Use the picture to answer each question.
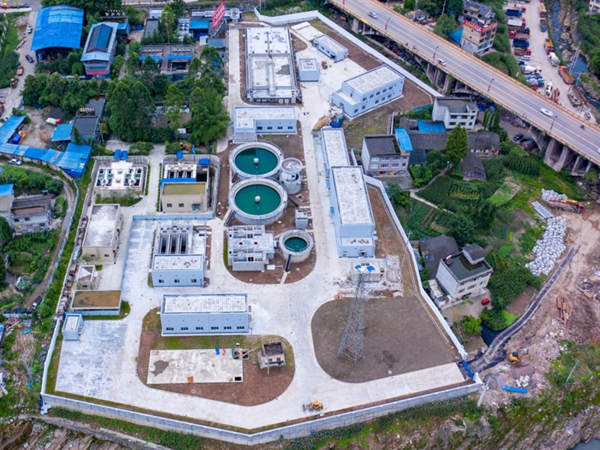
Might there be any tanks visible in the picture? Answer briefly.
Yes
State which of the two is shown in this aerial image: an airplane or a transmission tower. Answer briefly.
transmission tower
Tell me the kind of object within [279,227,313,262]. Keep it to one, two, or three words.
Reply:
storage tank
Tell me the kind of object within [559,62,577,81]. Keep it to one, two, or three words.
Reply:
vehicle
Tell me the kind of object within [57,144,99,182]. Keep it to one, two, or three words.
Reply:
shed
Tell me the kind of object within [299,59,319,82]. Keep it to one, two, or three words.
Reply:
building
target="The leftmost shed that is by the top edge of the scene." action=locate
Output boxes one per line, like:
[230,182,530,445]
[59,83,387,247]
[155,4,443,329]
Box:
[26,5,90,66]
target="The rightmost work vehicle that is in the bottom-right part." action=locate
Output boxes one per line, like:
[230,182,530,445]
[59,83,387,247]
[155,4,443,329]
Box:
[507,350,529,363]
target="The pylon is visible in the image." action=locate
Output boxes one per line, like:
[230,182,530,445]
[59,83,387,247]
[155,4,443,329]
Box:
[336,271,369,369]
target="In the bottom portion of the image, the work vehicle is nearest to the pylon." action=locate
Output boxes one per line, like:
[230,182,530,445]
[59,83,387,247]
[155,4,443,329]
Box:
[301,397,323,411]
